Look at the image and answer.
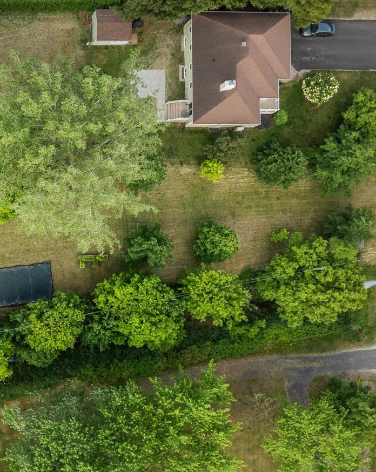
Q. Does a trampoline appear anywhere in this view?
No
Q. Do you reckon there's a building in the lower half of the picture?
No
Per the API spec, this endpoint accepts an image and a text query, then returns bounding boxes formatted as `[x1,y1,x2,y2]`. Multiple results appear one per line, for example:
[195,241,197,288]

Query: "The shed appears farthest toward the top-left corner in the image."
[92,9,136,47]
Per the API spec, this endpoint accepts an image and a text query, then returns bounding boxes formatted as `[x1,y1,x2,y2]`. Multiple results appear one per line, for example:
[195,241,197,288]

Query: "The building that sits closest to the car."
[177,11,292,131]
